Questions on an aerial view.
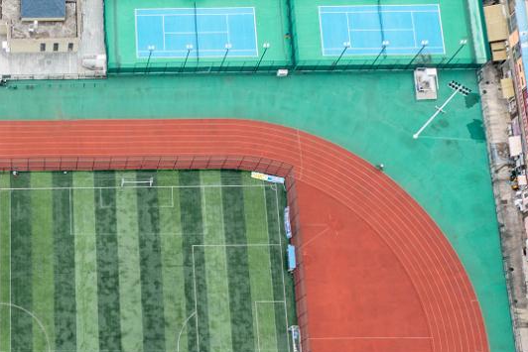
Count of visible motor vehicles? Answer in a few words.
0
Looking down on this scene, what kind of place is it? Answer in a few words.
sports ground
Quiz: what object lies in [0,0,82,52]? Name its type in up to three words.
building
